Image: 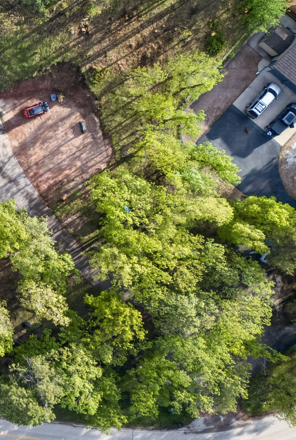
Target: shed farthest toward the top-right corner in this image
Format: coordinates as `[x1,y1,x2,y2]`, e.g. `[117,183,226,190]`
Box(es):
[255,26,294,58]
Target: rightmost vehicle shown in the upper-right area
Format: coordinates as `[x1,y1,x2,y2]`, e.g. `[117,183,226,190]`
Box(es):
[265,98,296,141]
